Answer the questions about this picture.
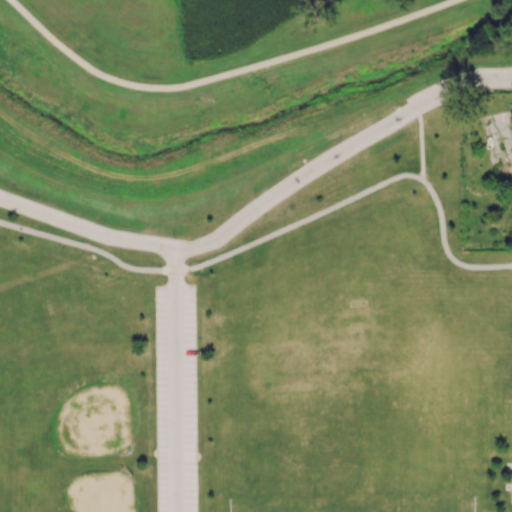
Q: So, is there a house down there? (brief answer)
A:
No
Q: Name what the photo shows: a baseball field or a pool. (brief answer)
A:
baseball field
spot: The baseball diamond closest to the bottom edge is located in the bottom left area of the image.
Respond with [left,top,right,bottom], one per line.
[68,472,134,512]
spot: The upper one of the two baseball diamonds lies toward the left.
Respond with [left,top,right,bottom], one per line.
[60,386,132,456]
